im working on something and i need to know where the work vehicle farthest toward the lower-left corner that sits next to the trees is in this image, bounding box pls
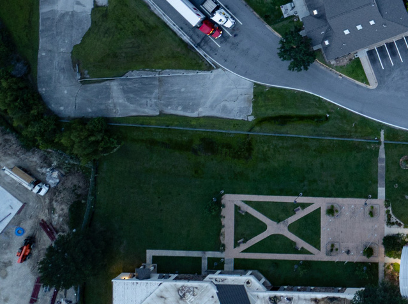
[13,239,34,267]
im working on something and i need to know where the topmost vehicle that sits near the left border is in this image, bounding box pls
[0,165,49,194]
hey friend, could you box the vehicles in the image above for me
[0,165,49,194]
[166,0,225,39]
[13,239,34,267]
[197,0,237,29]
